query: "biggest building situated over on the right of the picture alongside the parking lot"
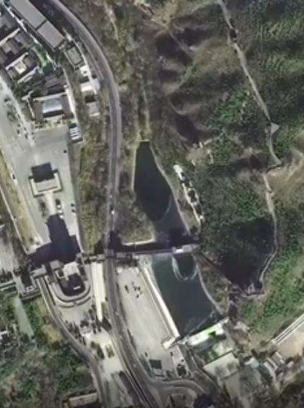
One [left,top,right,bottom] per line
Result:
[186,317,226,346]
